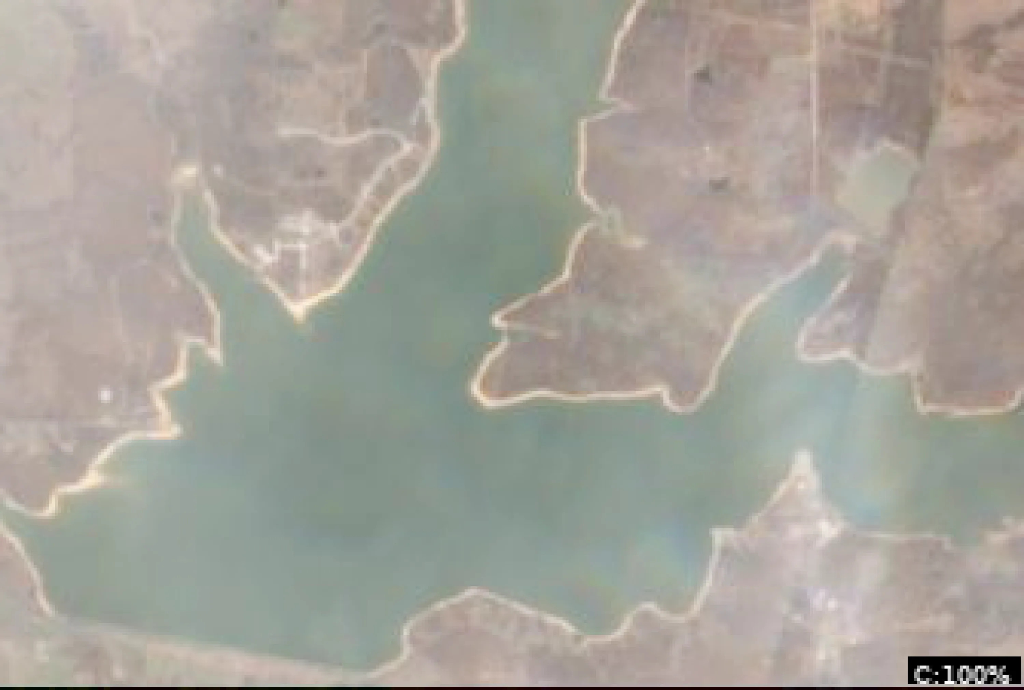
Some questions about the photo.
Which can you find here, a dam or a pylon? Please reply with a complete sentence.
I can see a dam in this picture.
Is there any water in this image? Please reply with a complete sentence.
Yes, some water is visible.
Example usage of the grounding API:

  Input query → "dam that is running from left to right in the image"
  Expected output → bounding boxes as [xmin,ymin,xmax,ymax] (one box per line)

[50,614,371,686]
